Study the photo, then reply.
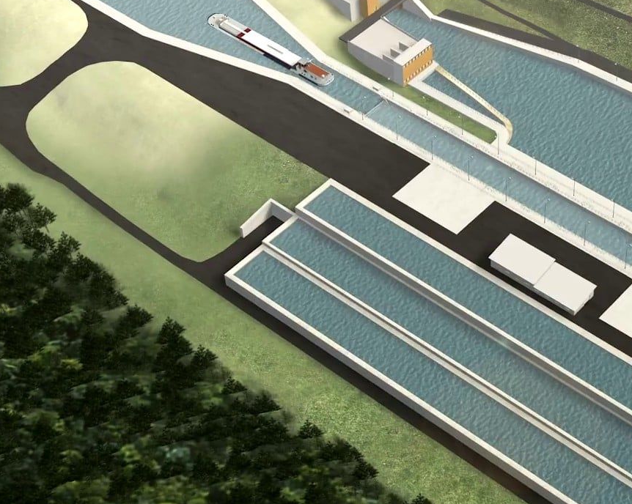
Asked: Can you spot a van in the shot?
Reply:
No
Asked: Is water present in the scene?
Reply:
Yes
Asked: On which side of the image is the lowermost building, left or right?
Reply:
right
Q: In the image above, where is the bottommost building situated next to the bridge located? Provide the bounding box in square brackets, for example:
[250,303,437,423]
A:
[352,18,434,87]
